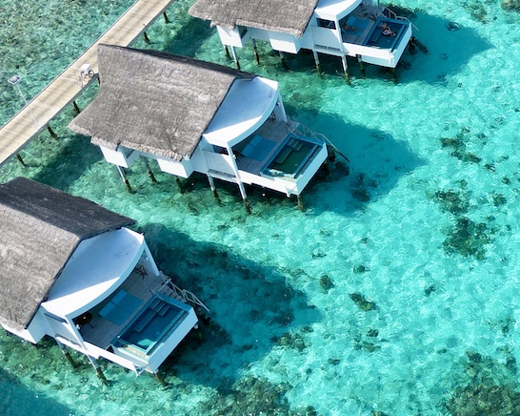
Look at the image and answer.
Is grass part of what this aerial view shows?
No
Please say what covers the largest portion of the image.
water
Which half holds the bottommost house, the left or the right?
left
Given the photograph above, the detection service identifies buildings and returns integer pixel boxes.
[71,40,344,200]
[0,172,221,378]
[189,0,427,71]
